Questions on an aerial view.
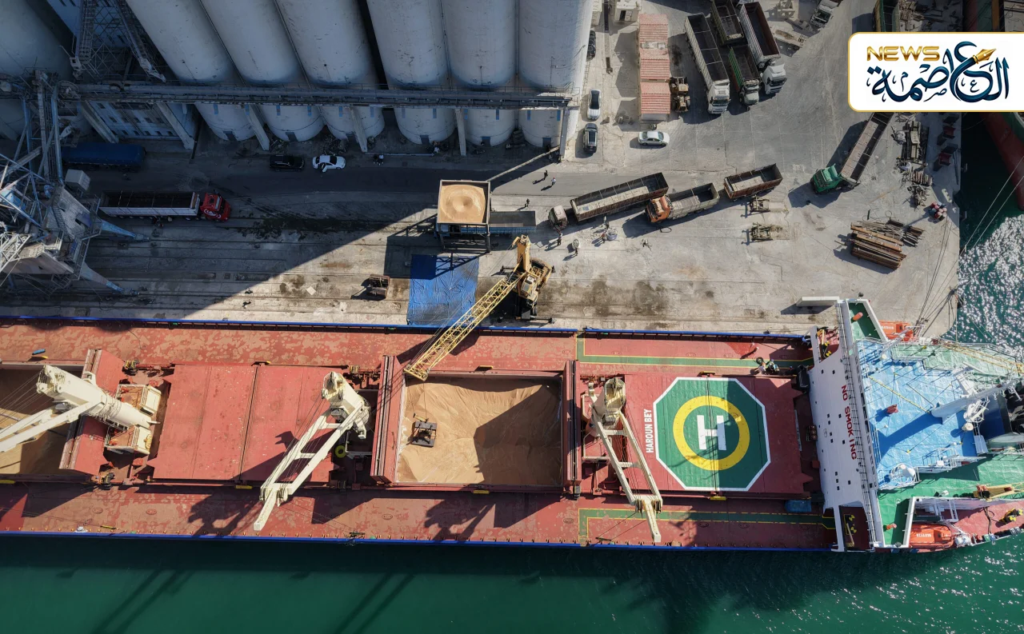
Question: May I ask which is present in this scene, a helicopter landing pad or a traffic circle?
helicopter landing pad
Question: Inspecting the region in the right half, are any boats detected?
Yes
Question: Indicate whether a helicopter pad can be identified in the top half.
No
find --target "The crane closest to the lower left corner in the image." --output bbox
[0,368,173,473]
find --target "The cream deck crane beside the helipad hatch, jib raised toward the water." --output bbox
[574,382,663,547]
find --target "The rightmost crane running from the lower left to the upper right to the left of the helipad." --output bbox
[409,233,560,428]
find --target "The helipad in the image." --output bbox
[651,378,773,494]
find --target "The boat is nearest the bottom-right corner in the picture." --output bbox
[912,524,963,552]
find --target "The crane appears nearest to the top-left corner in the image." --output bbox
[0,64,153,298]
